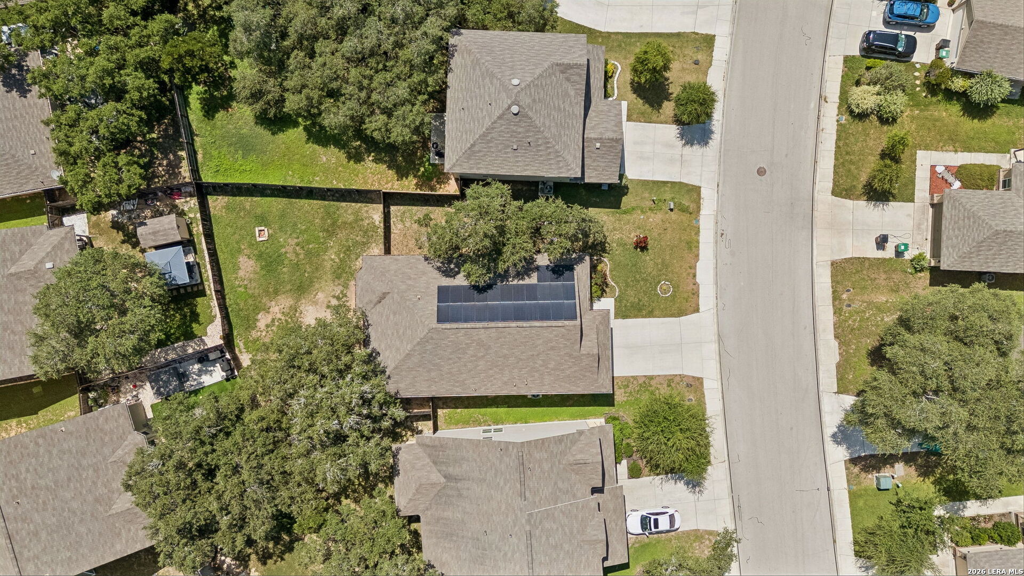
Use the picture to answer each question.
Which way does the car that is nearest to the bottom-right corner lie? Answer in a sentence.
The car that is nearest to the bottom-right corner has been laid out from left to right relative to the frame.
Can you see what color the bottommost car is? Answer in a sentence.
From above, the bottommost car appears white.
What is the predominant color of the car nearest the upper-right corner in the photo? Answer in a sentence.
The color of the car nearest the upper-right corner is blue.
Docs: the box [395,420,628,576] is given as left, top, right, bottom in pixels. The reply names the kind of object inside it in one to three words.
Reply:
house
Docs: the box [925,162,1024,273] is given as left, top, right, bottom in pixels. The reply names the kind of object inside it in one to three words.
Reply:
house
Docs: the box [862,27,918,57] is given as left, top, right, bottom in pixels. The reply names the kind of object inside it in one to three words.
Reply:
car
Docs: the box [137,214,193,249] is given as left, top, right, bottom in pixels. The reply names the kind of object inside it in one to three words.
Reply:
shed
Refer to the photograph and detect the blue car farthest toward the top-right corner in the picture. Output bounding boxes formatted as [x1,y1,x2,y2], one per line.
[886,0,940,26]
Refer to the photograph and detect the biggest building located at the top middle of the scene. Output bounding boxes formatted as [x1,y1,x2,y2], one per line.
[443,28,624,187]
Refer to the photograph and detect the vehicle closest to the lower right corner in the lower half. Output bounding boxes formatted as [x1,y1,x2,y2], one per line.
[625,506,680,536]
